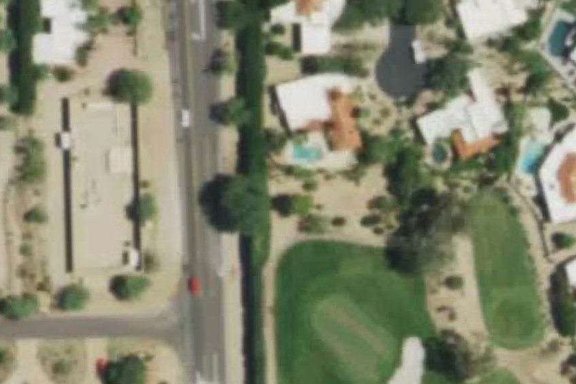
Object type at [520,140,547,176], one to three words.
swimming pool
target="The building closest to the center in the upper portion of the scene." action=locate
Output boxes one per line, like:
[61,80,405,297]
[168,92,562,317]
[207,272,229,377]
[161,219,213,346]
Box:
[277,73,360,151]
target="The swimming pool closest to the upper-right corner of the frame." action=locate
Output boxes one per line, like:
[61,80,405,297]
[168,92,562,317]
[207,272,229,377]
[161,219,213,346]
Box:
[549,20,570,58]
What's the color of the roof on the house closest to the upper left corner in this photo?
white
